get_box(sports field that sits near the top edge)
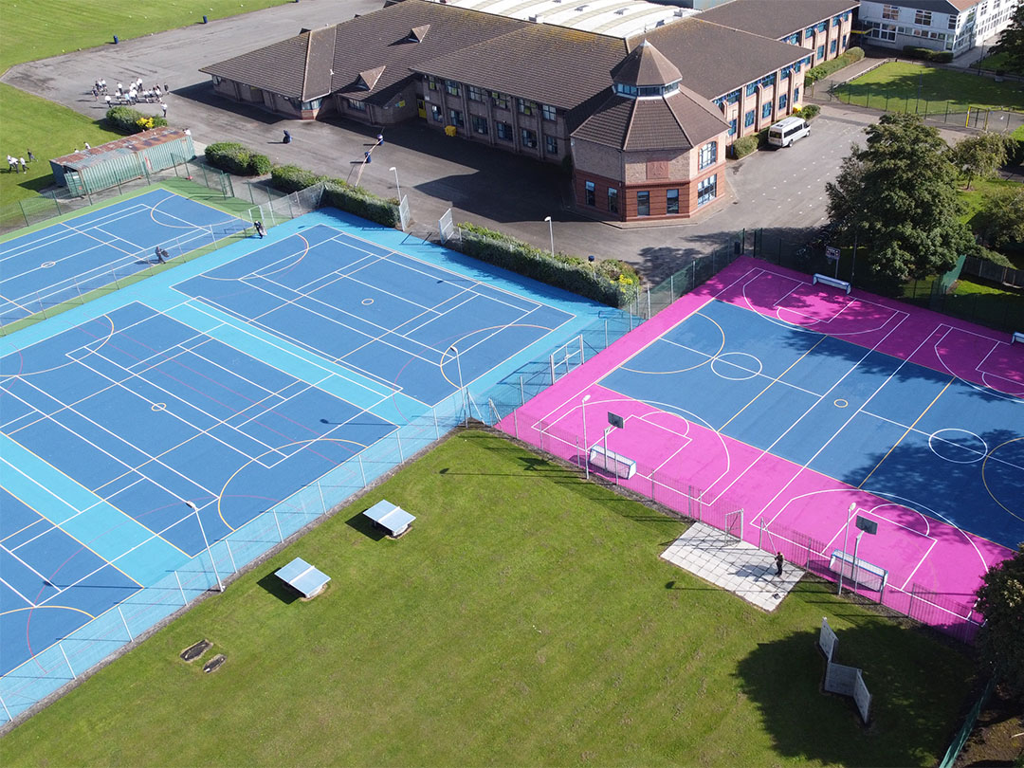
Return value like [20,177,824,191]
[0,0,291,226]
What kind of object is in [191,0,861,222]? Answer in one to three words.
building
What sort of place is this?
sports ground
